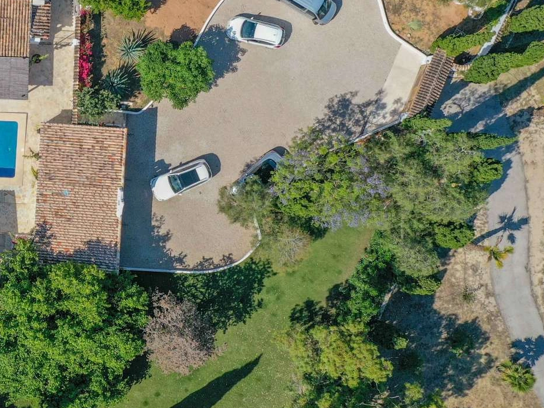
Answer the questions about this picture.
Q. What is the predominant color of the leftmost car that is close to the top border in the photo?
white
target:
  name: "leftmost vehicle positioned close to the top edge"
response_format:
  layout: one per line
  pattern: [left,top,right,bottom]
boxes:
[224,13,285,49]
